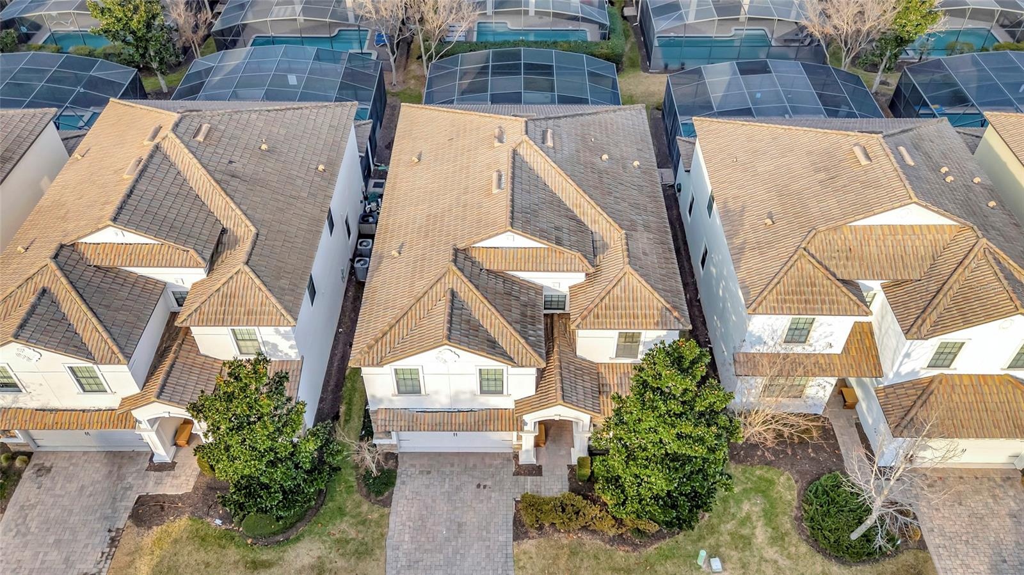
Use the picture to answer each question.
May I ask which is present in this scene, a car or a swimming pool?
swimming pool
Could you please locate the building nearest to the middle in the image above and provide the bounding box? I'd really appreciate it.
[348,102,693,464]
